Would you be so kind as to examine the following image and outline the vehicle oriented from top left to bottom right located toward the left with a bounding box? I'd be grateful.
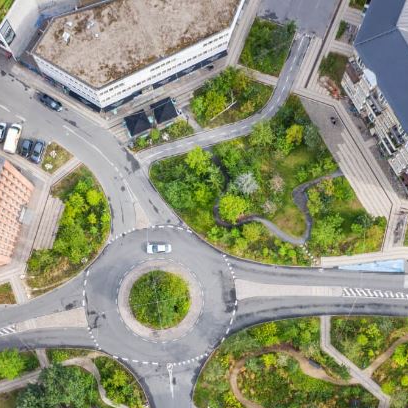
[38,92,64,113]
